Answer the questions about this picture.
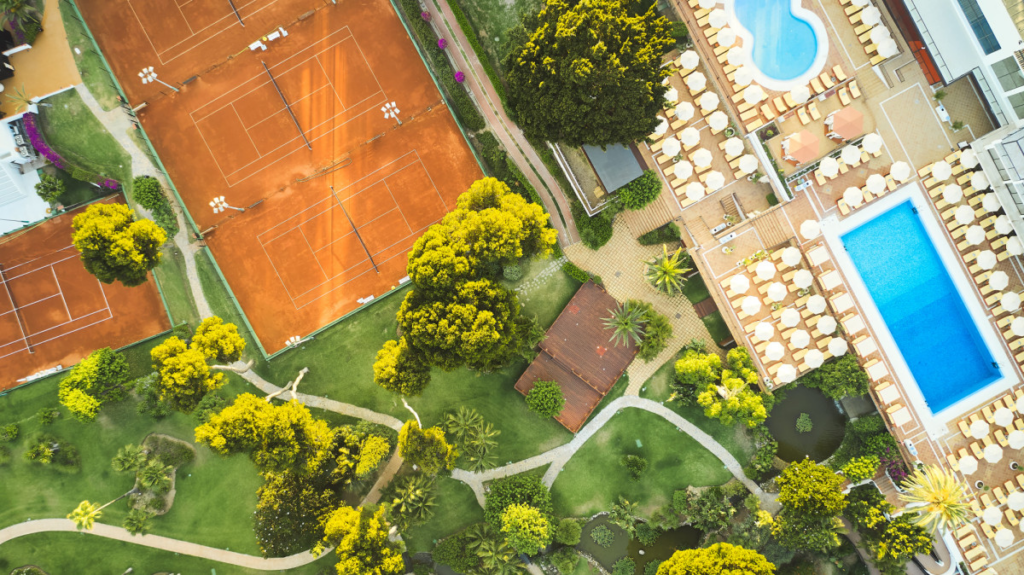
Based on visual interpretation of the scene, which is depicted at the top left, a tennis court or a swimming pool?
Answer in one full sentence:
What appears at the top left is a tennis court.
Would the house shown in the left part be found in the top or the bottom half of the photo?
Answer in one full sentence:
You can find the house shown in the left part in the top half.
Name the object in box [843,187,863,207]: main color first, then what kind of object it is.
white umbrella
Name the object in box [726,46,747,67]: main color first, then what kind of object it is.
white umbrella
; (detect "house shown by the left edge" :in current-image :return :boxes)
[0,120,54,234]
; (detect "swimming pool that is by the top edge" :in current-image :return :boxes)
[720,0,829,91]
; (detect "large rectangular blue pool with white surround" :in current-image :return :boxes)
[821,182,1020,441]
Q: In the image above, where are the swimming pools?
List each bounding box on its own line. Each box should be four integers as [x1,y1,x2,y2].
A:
[720,0,829,91]
[821,182,1020,441]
